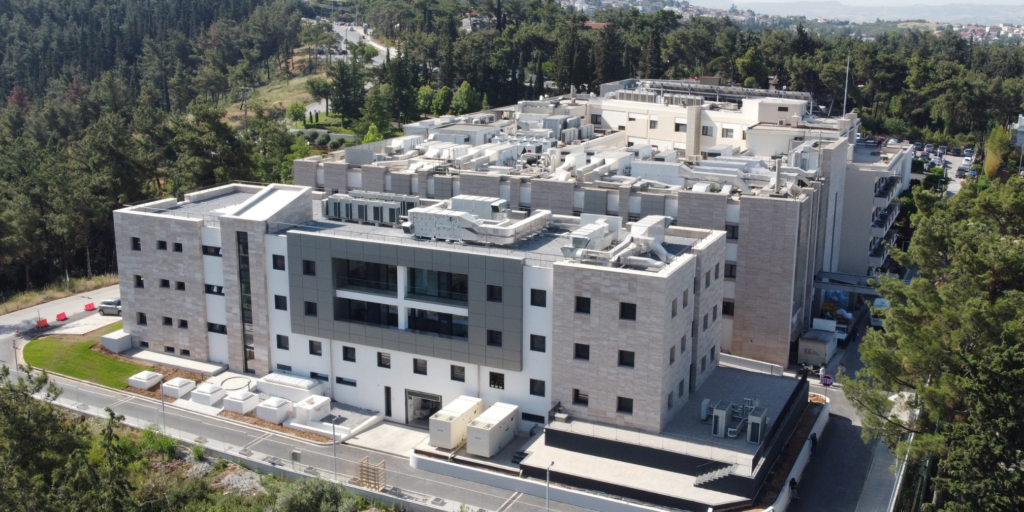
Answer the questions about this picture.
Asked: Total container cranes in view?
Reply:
zero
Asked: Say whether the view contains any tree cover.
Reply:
Yes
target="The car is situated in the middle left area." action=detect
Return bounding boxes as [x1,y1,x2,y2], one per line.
[96,299,121,317]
